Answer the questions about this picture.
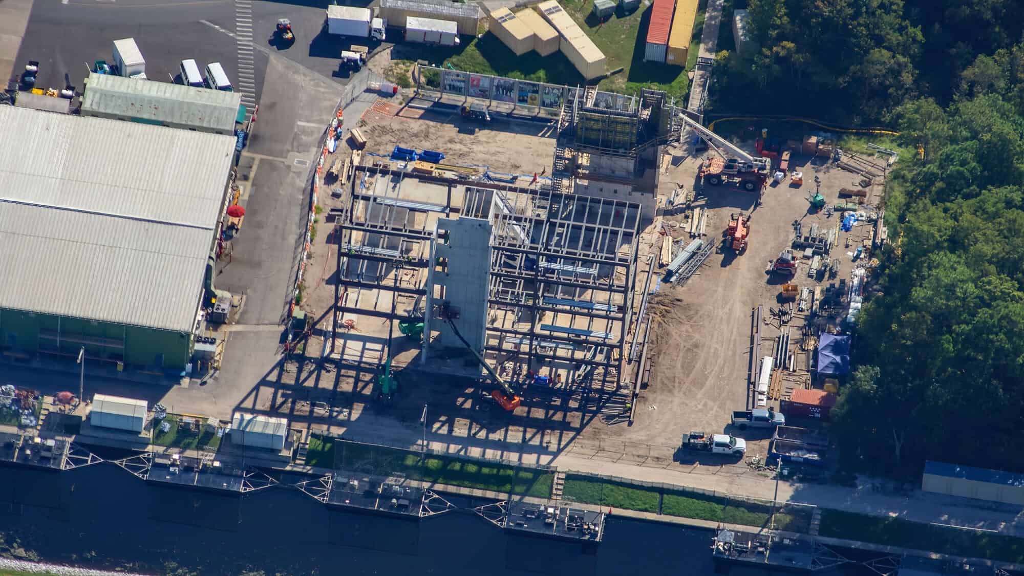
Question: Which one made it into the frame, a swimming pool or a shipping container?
shipping container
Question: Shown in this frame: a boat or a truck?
truck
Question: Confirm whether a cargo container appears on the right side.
Yes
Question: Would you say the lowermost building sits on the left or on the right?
right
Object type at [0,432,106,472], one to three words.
pier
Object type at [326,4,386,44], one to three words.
truck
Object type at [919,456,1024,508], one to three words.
building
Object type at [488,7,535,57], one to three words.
shipping container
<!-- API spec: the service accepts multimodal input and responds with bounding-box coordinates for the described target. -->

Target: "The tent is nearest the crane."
[815,334,851,392]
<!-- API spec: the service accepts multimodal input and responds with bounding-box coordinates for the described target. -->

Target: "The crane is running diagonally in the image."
[671,109,777,204]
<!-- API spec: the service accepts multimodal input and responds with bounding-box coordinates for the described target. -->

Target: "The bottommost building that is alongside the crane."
[330,165,647,393]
